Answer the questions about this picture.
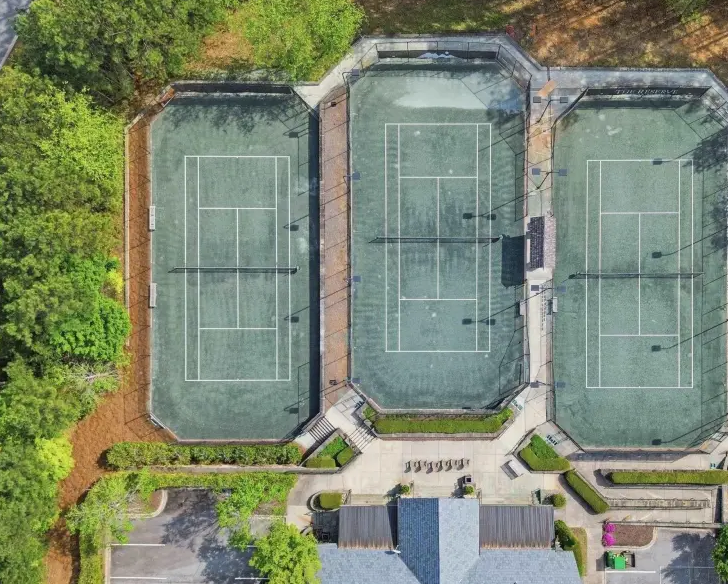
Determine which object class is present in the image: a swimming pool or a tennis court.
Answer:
tennis court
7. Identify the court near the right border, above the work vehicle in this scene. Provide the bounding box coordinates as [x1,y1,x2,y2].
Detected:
[553,97,728,447]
